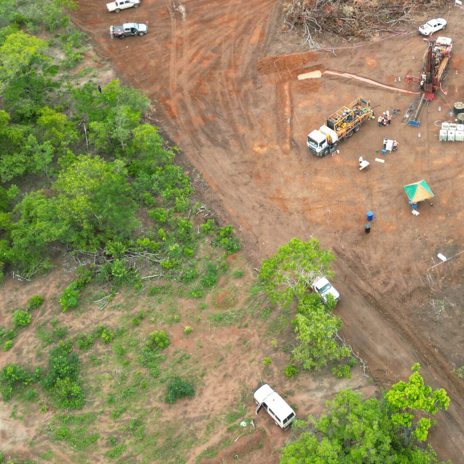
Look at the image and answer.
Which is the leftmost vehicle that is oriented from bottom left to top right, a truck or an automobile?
truck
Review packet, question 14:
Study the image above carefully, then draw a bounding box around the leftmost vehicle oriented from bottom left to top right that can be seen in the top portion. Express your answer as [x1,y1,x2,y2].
[305,98,374,160]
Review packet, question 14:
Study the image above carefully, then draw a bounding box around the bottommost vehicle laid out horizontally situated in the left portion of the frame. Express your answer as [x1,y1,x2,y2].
[113,24,149,40]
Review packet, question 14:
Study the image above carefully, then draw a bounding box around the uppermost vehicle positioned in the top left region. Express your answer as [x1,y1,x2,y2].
[108,0,142,14]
